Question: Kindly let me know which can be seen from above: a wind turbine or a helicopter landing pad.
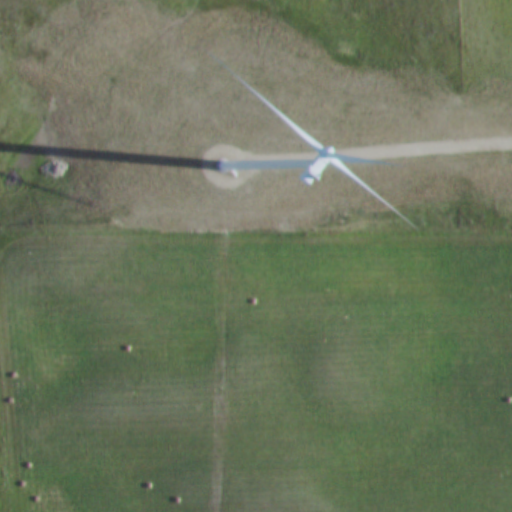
wind turbine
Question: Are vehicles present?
No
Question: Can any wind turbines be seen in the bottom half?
No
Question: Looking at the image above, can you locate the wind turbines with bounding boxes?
[206,51,418,230]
